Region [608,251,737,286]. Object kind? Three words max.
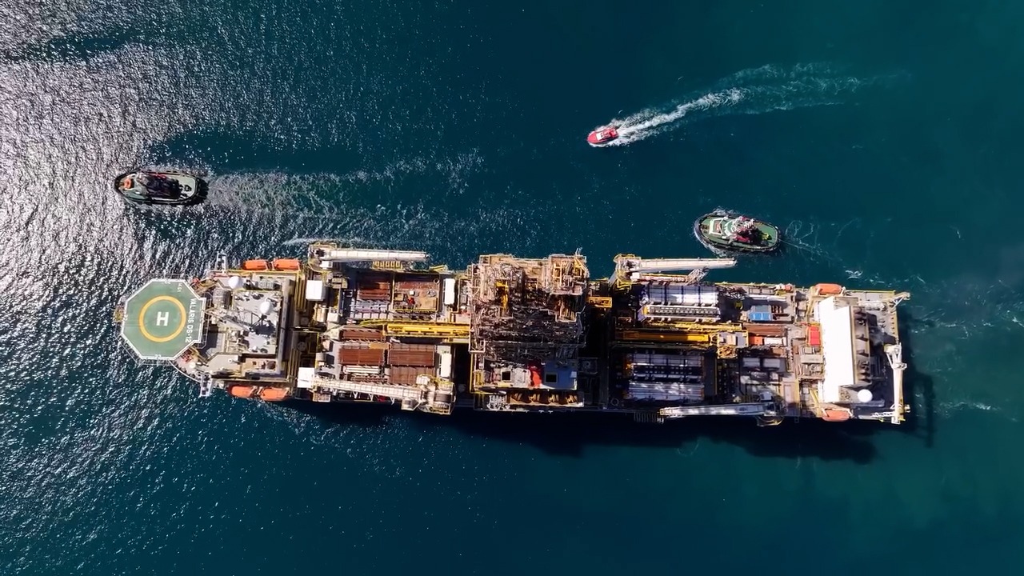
crane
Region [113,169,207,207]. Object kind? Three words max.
boat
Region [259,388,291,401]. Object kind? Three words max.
boat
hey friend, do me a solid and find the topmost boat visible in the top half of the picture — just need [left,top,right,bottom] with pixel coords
[589,126,619,144]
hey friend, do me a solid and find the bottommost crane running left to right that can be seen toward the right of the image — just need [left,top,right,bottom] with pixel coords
[655,391,798,427]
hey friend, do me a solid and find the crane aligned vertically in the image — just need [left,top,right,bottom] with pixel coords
[872,336,911,423]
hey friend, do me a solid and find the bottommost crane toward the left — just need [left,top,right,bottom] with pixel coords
[312,373,457,413]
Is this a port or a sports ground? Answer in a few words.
port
